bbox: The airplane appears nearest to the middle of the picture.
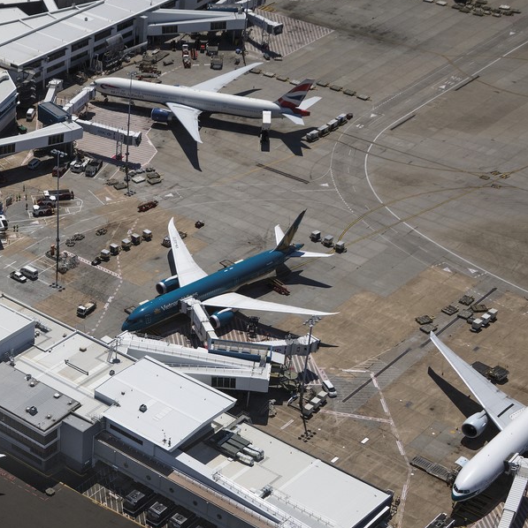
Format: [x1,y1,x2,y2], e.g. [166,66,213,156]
[120,209,336,333]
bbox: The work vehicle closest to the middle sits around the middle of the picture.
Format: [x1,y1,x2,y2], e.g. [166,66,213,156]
[268,273,290,293]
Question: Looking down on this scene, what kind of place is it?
airport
